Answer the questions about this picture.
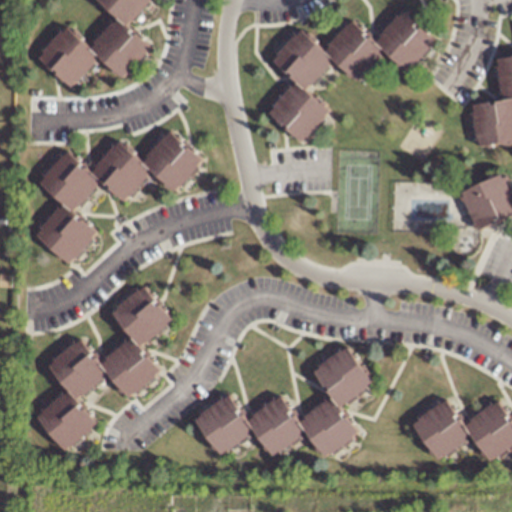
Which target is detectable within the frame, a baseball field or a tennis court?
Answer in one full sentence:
This aerial view contains a tennis court.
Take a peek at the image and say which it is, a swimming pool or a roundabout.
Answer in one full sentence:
There is a swimming pool in the scene.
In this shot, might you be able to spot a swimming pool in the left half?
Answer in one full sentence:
No, looking in the left half, there is no swimming pool.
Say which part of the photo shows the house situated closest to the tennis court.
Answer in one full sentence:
The house situated closest to the tennis court is in the top part of the image.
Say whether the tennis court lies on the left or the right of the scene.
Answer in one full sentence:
You can find the tennis court on the right side of the picture.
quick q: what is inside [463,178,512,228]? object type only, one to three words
building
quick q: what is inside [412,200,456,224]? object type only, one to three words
swimming pool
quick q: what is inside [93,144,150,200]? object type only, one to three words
house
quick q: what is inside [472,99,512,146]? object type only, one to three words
house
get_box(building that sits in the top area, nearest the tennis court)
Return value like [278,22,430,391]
[270,83,329,141]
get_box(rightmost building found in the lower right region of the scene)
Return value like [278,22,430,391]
[466,404,512,460]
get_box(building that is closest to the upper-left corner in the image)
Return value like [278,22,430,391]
[40,29,98,88]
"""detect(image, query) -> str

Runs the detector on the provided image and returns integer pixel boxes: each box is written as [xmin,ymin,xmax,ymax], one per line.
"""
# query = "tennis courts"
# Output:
[339,150,380,234]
